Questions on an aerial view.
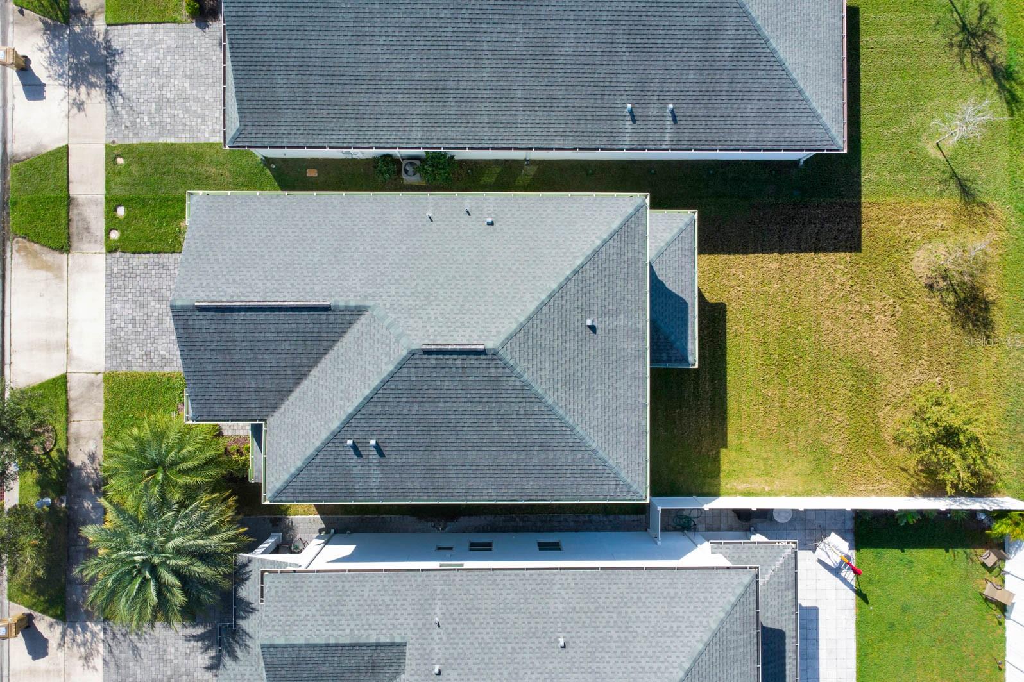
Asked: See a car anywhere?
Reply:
No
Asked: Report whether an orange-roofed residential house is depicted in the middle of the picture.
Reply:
No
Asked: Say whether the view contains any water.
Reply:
No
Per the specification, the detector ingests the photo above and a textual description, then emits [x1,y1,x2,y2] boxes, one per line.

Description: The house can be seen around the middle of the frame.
[168,191,698,504]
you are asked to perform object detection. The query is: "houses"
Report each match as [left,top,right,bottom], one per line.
[213,524,798,682]
[221,0,847,167]
[168,191,698,504]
